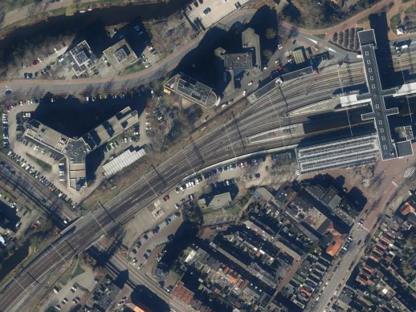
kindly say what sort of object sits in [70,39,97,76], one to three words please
building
